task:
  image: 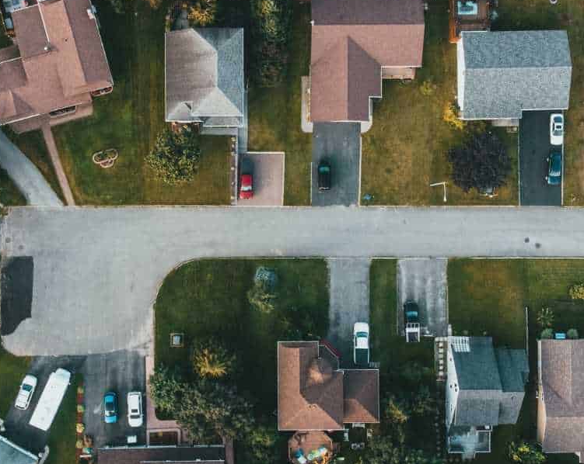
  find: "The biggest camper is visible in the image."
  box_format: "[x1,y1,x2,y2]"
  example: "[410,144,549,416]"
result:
[31,364,76,430]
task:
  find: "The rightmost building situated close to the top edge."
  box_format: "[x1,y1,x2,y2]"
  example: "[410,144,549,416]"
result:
[449,0,573,122]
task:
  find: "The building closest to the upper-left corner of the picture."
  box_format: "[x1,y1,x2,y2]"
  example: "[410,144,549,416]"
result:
[0,0,114,126]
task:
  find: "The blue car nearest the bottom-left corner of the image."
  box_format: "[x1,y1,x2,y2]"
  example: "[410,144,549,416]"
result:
[100,391,118,424]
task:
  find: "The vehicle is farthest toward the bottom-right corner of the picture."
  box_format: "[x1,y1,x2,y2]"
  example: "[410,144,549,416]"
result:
[403,300,422,345]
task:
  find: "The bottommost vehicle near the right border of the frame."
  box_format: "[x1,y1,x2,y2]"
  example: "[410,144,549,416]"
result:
[544,150,564,184]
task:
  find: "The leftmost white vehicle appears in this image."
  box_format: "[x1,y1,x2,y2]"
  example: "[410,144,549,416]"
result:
[13,373,38,412]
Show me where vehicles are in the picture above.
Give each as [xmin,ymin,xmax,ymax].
[546,113,566,147]
[31,364,76,430]
[100,391,118,424]
[13,373,38,412]
[124,391,142,429]
[353,321,371,365]
[239,173,255,200]
[316,160,334,194]
[544,150,564,184]
[403,300,422,345]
